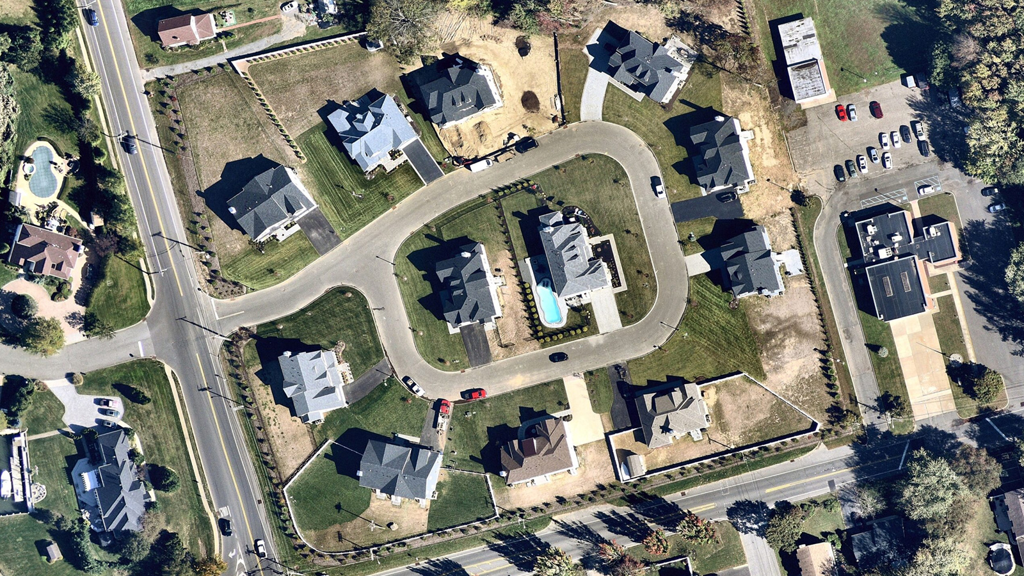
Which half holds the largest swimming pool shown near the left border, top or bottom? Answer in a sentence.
The largest swimming pool shown near the left border is in the top half of the image.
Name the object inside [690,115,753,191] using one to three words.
house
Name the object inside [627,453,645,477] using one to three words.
shed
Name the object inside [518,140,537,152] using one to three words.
vehicle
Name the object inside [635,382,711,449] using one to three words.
house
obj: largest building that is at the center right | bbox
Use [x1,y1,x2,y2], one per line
[855,212,960,320]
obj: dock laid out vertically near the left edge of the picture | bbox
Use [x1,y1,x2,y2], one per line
[5,439,26,501]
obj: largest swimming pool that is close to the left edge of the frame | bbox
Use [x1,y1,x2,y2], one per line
[28,145,58,199]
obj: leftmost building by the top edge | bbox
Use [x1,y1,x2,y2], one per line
[158,13,216,49]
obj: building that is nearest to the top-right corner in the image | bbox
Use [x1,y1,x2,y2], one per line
[778,17,830,103]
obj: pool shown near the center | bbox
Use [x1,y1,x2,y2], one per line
[535,276,563,325]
